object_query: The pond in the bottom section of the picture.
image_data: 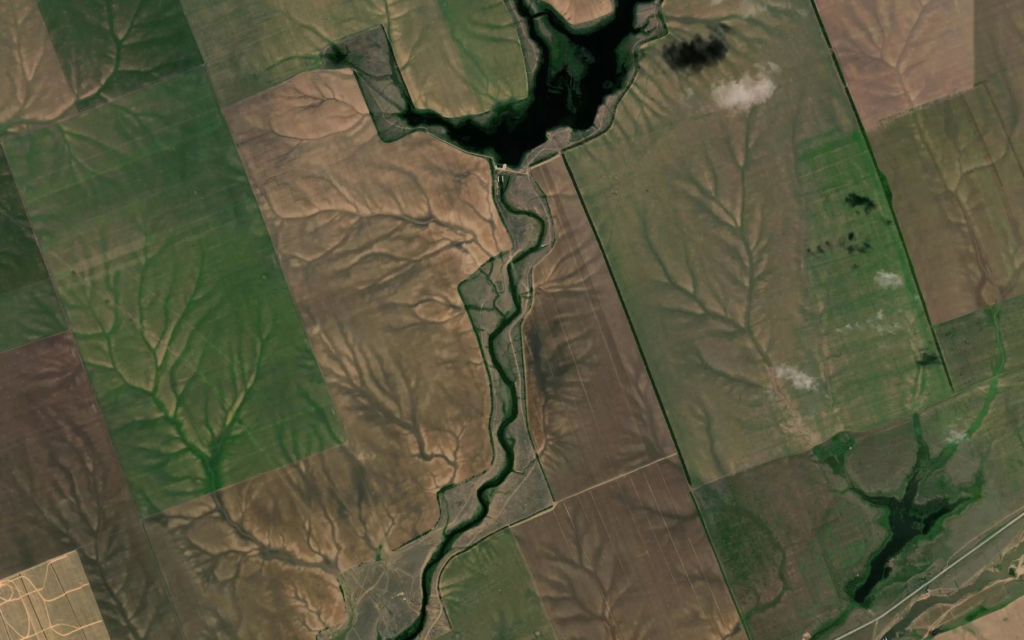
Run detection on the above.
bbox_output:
[850,470,974,605]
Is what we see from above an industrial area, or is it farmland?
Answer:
farmland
